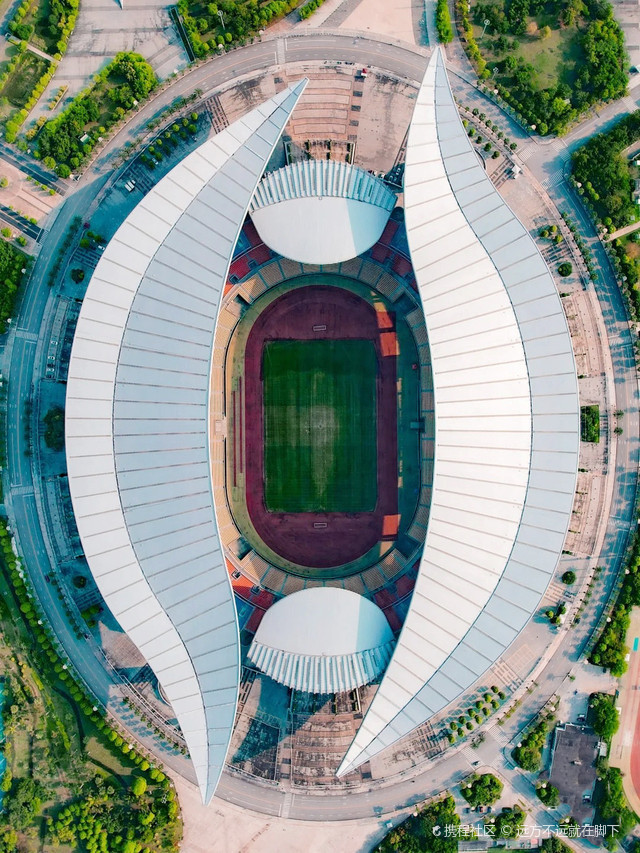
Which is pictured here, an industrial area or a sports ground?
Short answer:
sports ground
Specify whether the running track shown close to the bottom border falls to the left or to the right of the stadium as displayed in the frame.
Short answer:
to the right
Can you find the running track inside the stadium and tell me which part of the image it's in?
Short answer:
center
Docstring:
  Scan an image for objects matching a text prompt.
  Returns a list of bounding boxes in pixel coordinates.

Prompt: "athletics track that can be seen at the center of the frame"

[245,285,398,566]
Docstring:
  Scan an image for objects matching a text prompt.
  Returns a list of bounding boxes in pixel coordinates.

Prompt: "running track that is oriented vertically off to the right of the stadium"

[609,603,640,828]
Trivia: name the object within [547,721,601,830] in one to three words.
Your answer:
building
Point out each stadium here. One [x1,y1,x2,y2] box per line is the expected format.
[65,47,580,806]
